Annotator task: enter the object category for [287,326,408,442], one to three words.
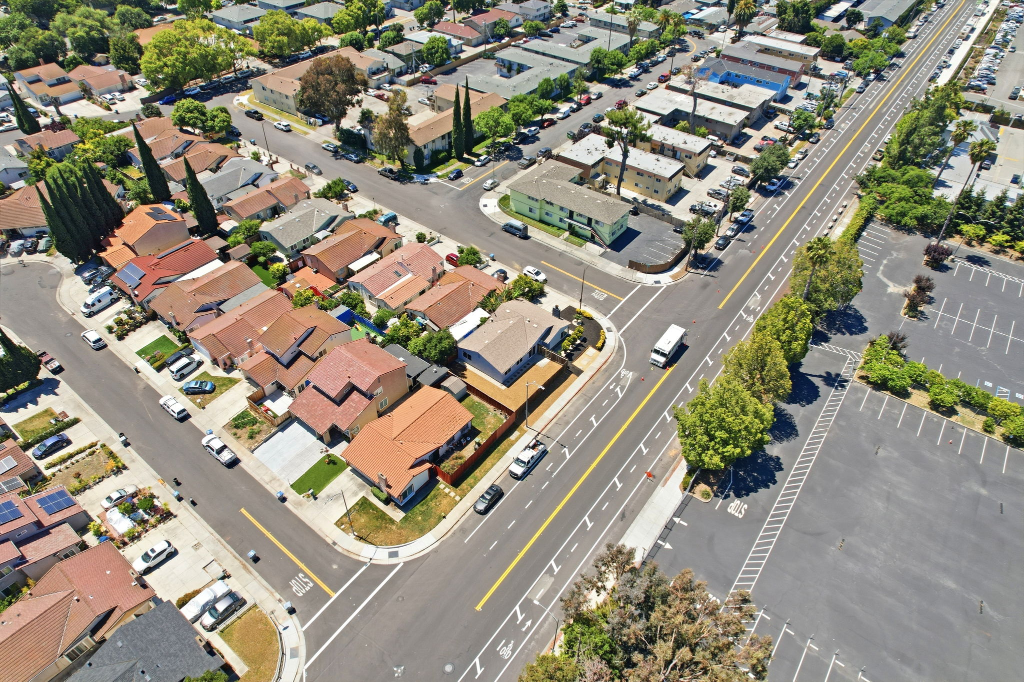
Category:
house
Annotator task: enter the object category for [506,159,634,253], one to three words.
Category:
building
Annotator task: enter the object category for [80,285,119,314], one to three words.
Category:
van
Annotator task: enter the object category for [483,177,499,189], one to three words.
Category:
vehicle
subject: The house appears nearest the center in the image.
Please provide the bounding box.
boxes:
[458,299,571,381]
